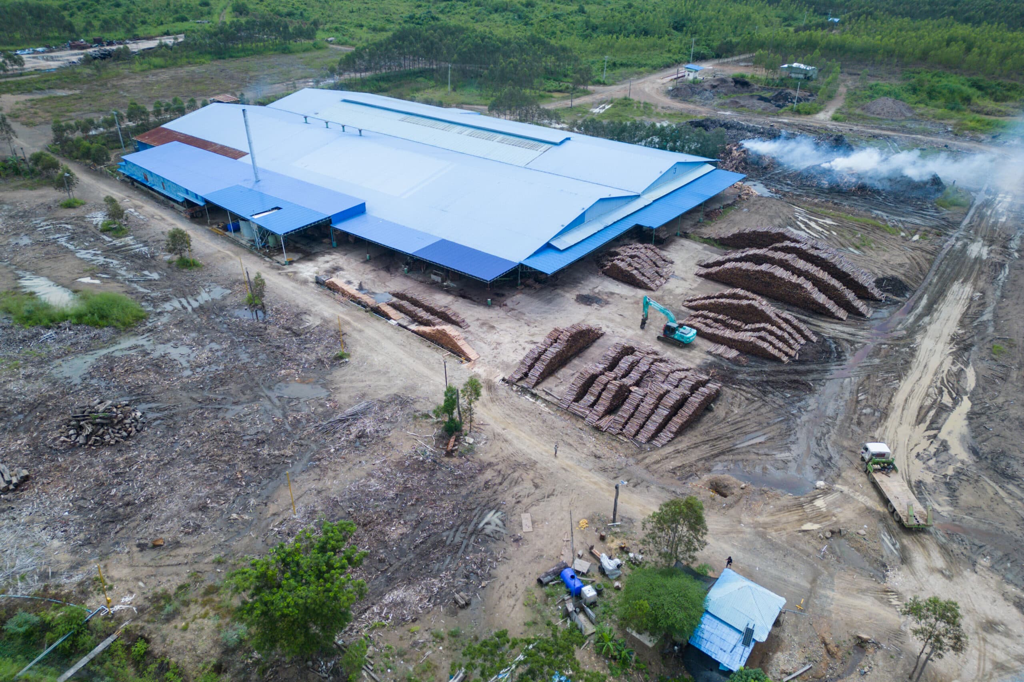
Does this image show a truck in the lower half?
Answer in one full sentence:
Yes, a truck shows up in the lower half.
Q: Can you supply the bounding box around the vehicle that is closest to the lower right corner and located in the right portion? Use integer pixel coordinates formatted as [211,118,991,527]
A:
[857,443,939,532]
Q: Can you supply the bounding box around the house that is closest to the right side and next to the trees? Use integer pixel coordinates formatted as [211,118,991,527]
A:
[782,63,815,79]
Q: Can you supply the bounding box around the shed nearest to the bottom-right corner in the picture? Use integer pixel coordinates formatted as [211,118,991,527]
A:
[687,568,807,682]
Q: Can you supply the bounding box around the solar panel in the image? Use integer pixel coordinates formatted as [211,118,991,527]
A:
[730,626,754,661]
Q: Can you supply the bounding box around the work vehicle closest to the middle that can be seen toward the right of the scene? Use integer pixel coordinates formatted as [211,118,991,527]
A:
[639,293,690,347]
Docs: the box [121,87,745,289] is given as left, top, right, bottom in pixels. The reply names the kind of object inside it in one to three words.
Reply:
building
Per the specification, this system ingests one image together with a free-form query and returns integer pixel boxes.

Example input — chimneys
[241,107,260,182]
